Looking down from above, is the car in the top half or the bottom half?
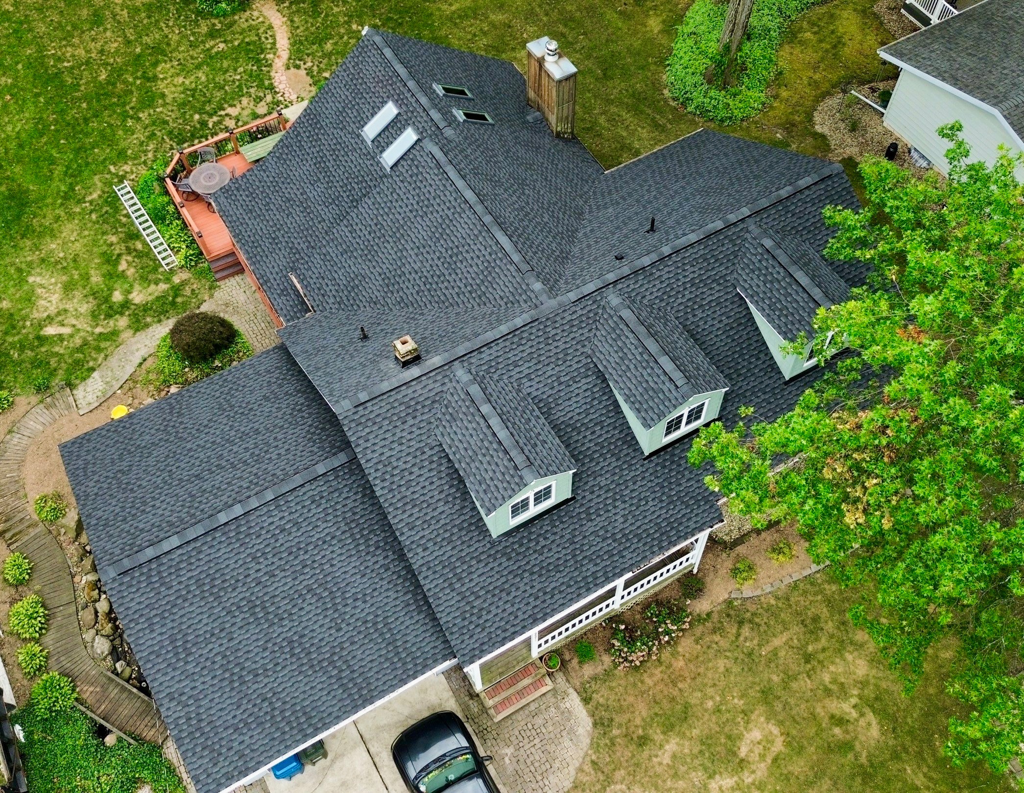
bottom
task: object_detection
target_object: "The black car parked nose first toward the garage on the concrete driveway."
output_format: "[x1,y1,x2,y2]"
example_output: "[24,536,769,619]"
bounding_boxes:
[395,715,496,793]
